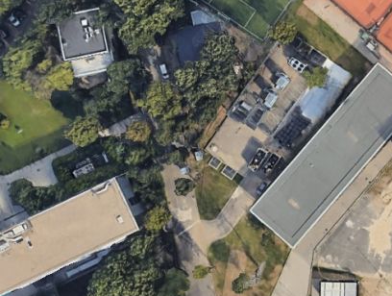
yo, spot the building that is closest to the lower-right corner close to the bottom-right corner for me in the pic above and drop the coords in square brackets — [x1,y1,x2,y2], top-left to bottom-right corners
[320,279,359,296]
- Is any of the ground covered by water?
No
